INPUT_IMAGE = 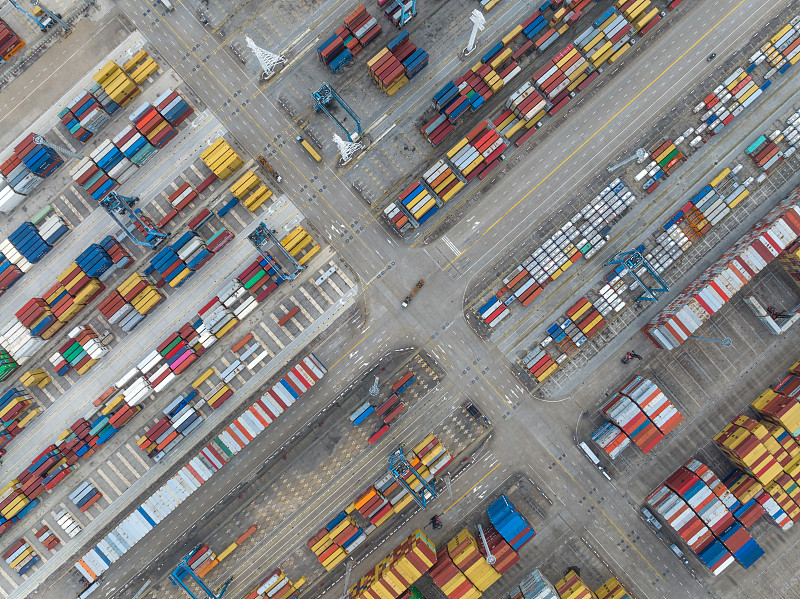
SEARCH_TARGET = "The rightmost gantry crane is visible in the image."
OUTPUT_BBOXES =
[602,248,676,307]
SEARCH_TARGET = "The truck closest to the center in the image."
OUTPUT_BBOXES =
[401,283,425,309]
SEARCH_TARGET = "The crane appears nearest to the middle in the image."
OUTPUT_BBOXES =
[248,223,311,282]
